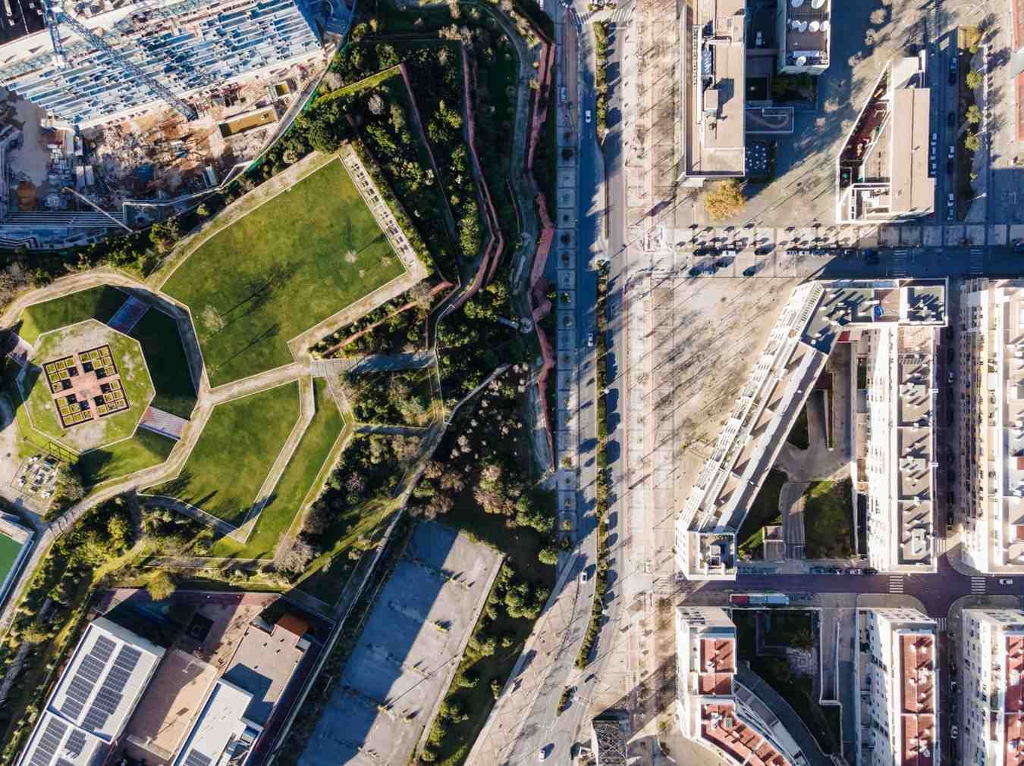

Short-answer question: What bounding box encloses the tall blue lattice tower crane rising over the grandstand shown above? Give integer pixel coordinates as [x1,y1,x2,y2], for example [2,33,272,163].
[47,0,199,123]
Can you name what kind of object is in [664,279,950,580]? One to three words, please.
building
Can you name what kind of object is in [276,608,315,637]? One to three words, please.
building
